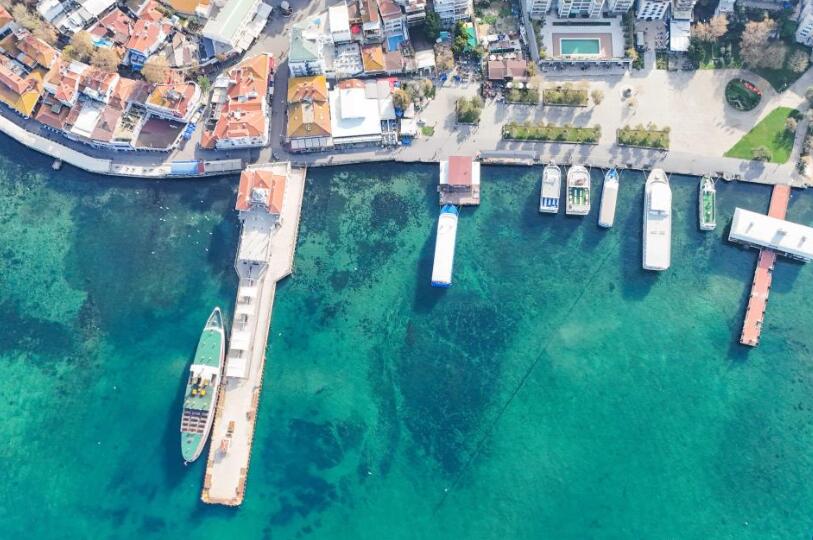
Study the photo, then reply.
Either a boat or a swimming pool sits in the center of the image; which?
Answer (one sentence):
The feature located in the center of the image is a boat.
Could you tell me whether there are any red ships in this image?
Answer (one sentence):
No, this view has no red ship in it.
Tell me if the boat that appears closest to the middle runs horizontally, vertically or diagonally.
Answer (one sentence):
From this overhead view, the boat that appears closest to the middle appears to run vertically.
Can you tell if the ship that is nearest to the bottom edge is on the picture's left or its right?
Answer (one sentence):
You can find the ship that is nearest to the bottom edge on the left side of the picture.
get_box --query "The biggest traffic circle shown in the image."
[724,78,762,111]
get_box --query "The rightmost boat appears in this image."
[697,178,715,230]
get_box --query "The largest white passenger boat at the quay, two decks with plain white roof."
[639,170,671,270]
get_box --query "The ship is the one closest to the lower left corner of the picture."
[175,309,223,469]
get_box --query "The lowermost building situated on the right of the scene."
[723,208,813,268]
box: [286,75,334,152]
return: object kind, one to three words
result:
building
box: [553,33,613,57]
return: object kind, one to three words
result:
swimming pool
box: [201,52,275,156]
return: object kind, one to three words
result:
house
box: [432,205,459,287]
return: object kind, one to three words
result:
boat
